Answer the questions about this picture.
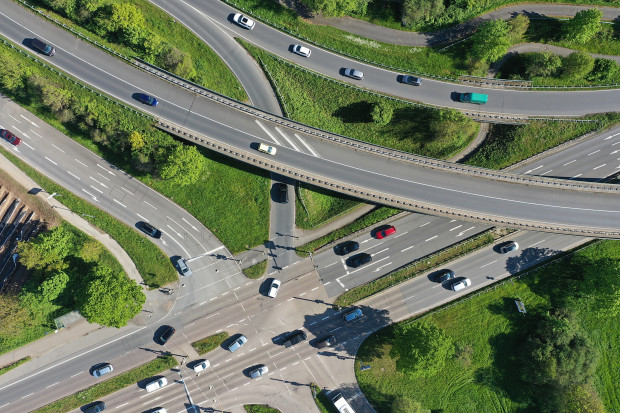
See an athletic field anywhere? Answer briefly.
No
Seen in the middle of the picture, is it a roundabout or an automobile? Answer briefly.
automobile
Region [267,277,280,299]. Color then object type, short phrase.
white vehicle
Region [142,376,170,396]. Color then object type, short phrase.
white vehicle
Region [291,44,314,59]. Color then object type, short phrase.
white car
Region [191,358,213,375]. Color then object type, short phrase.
white car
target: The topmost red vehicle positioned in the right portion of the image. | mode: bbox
[374,224,398,240]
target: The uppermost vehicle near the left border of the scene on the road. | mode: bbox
[27,35,57,58]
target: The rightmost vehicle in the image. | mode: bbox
[498,240,520,256]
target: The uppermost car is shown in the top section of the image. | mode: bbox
[232,12,257,31]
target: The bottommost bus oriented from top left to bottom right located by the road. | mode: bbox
[329,387,359,413]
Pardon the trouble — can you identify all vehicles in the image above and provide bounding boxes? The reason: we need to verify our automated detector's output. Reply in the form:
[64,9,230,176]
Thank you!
[450,276,473,294]
[148,406,168,413]
[140,220,163,240]
[84,401,108,413]
[142,376,170,396]
[400,74,423,87]
[191,358,213,375]
[374,224,398,240]
[136,91,160,108]
[248,364,269,380]
[0,127,22,147]
[291,44,314,59]
[337,240,361,257]
[267,277,280,299]
[27,35,57,58]
[343,67,366,81]
[434,269,456,285]
[282,330,308,351]
[157,325,177,345]
[458,91,492,105]
[277,183,289,203]
[175,257,193,278]
[232,12,257,31]
[329,387,359,413]
[93,363,114,378]
[227,334,248,354]
[348,253,372,268]
[498,240,520,256]
[314,334,337,350]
